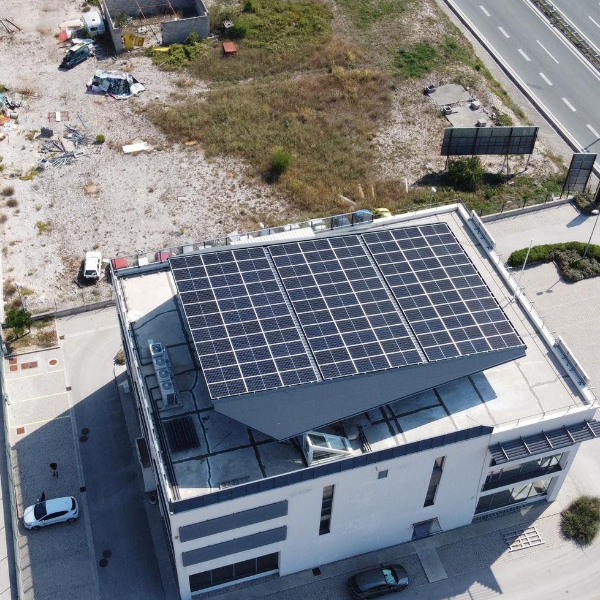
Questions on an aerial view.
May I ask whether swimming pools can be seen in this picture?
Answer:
No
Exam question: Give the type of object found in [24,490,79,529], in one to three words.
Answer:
car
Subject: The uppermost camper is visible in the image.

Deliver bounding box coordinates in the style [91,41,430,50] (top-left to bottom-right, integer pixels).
[80,10,108,37]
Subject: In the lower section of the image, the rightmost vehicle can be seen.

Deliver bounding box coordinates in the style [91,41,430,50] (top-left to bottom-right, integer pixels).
[346,562,411,600]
